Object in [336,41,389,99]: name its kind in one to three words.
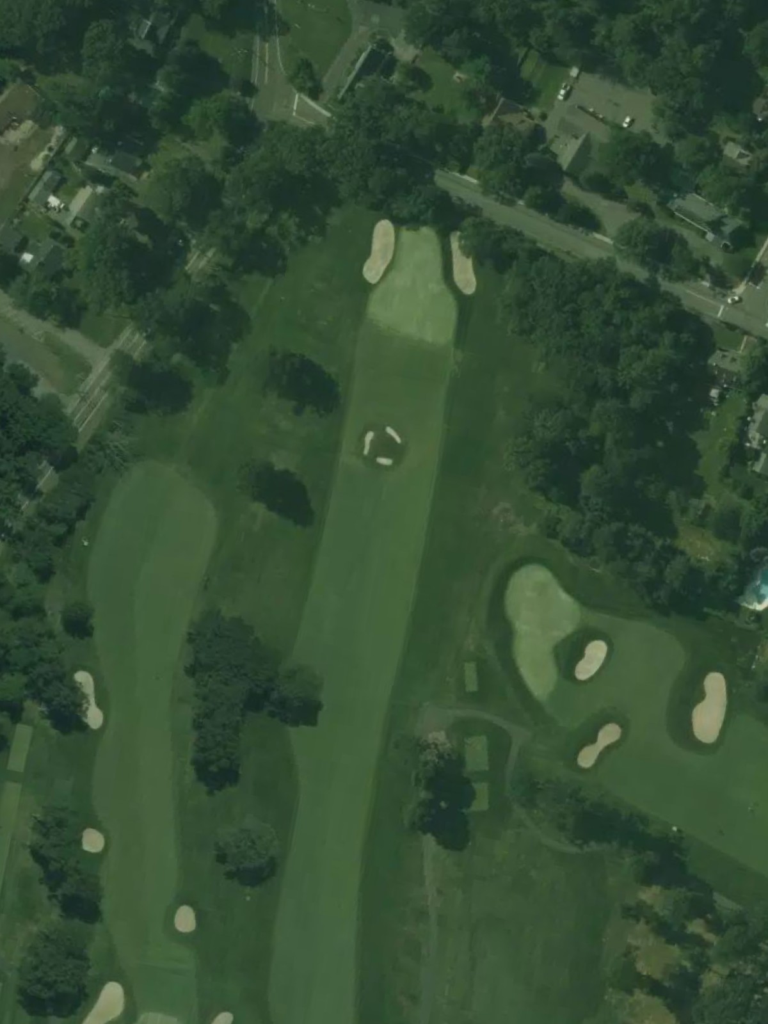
house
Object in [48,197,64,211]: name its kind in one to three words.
camper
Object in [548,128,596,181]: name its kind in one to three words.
house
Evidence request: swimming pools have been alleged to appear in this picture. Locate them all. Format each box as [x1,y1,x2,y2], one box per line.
[740,562,768,611]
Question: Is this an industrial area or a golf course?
golf course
